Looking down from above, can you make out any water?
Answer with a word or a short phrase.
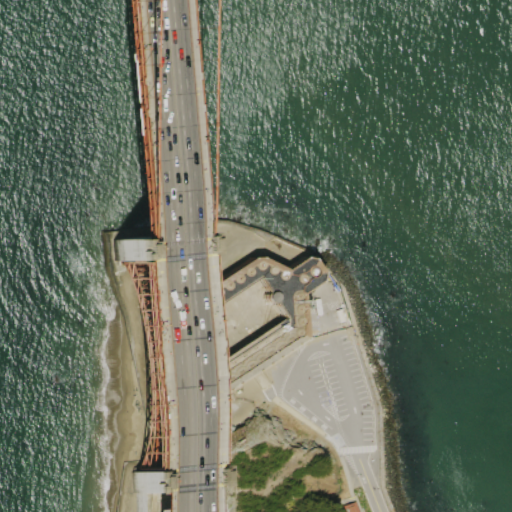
Yes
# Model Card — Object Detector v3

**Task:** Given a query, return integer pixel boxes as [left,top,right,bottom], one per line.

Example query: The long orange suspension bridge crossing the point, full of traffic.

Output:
[118,0,231,512]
